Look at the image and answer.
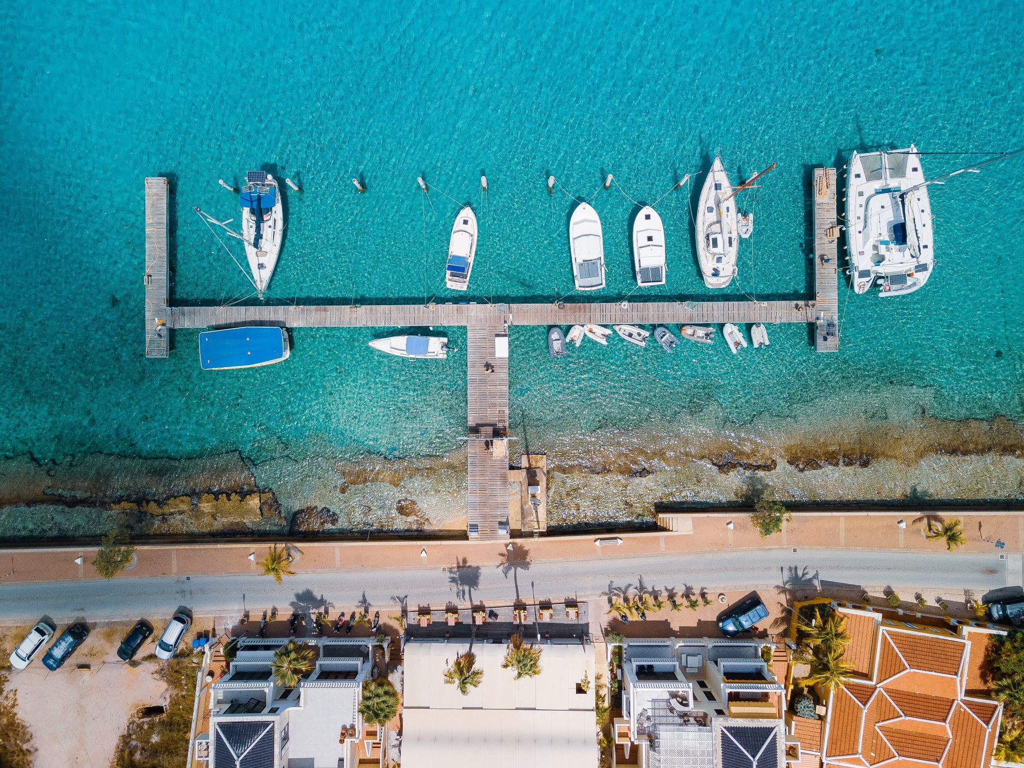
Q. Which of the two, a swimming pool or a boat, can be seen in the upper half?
boat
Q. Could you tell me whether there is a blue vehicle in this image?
Yes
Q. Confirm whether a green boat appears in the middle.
No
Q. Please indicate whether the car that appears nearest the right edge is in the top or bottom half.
bottom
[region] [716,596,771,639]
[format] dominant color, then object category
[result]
blue vehicle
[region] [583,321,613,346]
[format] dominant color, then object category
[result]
white boat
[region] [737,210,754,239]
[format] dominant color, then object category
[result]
white boat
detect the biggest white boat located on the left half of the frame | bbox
[191,171,284,298]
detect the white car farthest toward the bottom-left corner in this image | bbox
[10,620,55,668]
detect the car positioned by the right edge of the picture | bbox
[982,595,1024,625]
